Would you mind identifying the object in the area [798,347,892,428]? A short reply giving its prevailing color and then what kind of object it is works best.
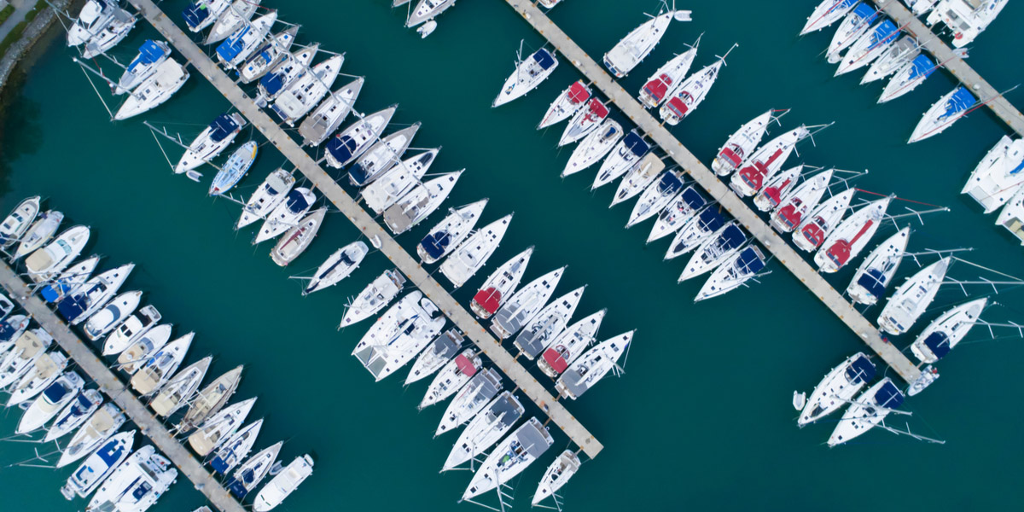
white boat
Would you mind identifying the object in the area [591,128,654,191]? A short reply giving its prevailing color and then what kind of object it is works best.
white boat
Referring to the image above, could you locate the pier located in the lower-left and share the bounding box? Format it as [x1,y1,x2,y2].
[0,257,251,512]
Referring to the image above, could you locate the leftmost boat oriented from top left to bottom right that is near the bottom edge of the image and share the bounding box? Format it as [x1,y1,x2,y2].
[62,486,77,501]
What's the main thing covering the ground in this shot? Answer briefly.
water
